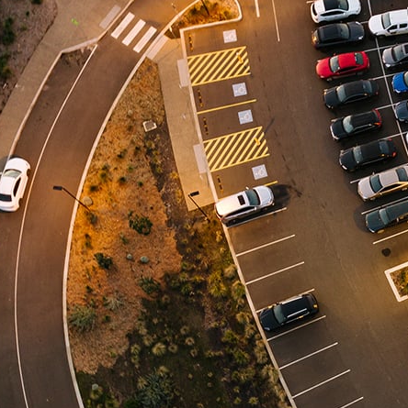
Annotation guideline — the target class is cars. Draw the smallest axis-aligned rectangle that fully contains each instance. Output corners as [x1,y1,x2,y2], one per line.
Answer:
[393,99,408,125]
[356,164,408,199]
[323,76,380,108]
[0,157,32,213]
[328,107,384,142]
[315,50,371,81]
[391,67,408,97]
[311,17,366,50]
[310,0,362,23]
[213,184,277,223]
[381,41,408,70]
[338,137,398,171]
[258,292,322,330]
[363,196,408,233]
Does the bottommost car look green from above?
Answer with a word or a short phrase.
No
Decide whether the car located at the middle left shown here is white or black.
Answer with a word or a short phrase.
white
